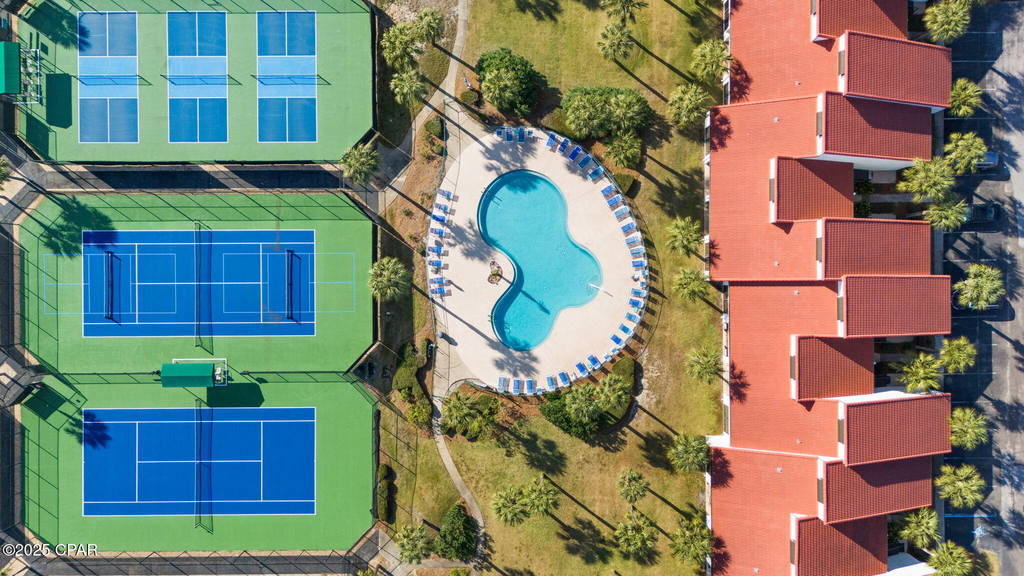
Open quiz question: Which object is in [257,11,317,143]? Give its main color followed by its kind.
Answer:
blue sports court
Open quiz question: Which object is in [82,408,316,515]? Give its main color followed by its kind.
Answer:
blue tennis court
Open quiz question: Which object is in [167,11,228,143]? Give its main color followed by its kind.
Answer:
blue sports court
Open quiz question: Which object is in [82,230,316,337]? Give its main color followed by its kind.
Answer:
blue tennis court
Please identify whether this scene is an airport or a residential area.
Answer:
residential area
